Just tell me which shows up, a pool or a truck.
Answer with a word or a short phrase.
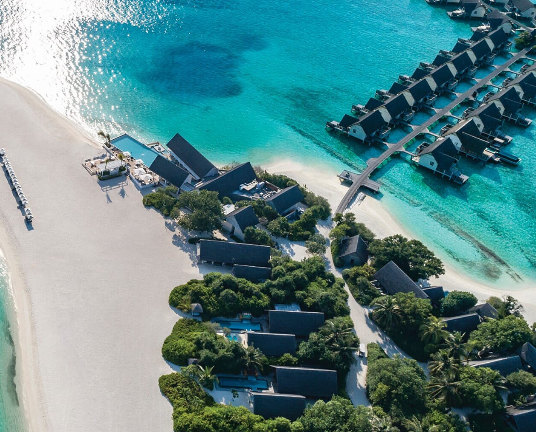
pool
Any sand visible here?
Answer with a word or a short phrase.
Yes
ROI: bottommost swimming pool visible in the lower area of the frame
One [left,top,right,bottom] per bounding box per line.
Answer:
[218,377,269,390]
